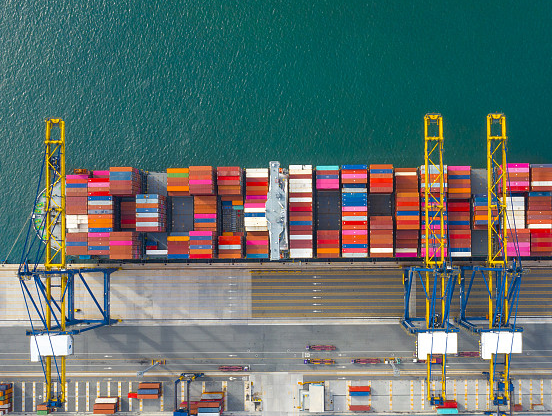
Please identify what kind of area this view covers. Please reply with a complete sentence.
It's a port.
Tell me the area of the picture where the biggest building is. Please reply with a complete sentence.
The biggest building is located in the bottom region of the scene.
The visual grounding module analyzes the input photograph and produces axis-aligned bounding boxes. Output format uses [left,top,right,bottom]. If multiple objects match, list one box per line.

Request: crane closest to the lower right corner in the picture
[485,372,515,416]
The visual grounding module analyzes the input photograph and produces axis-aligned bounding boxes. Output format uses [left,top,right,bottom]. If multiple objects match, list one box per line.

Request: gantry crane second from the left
[174,374,203,416]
